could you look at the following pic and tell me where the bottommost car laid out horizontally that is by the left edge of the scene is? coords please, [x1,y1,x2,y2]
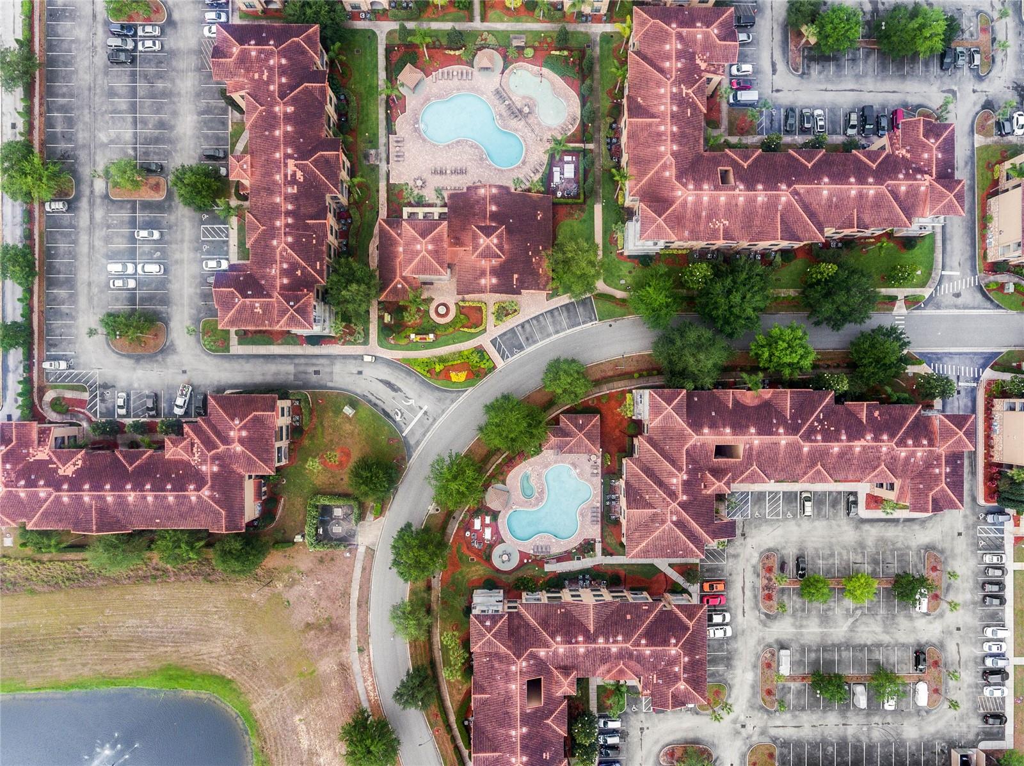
[44,359,70,371]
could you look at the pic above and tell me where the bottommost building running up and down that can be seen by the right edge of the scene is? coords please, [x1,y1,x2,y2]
[995,401,1024,468]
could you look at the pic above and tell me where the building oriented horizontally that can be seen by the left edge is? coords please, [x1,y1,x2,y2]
[0,393,296,535]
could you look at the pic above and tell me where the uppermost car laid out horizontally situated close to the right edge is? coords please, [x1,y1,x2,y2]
[984,512,1012,525]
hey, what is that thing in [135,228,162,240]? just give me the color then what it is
white vehicle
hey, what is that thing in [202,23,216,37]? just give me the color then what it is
white car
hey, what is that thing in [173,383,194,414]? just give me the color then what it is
white truck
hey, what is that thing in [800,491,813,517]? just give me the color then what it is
white vehicle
